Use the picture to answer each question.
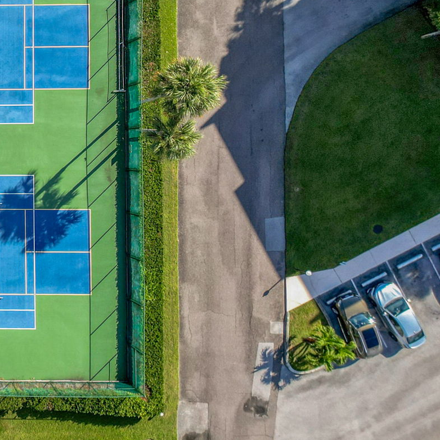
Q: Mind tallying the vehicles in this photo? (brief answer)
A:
two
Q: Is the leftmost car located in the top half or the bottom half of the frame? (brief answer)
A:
bottom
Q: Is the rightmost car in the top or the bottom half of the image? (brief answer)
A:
bottom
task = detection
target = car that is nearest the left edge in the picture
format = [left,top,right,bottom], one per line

[332,291,387,360]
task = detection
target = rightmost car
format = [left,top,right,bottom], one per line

[370,280,425,350]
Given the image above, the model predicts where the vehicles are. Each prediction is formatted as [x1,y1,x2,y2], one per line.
[332,291,387,360]
[370,280,425,350]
